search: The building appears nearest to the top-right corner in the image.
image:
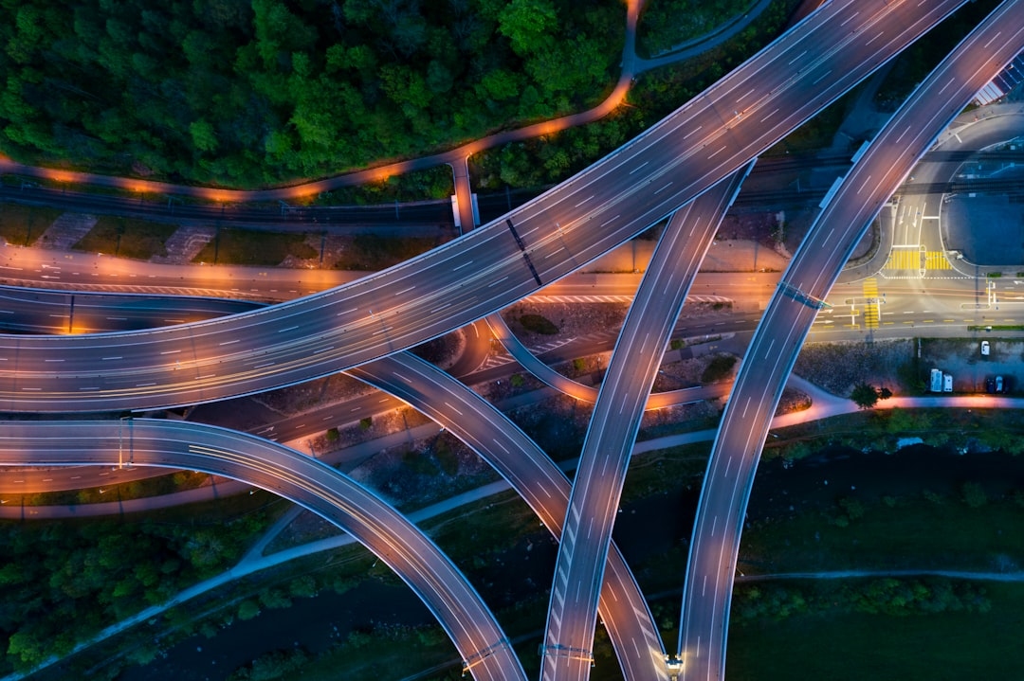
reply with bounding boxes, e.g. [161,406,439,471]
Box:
[971,49,1024,113]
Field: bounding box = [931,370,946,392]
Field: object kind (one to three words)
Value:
camper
